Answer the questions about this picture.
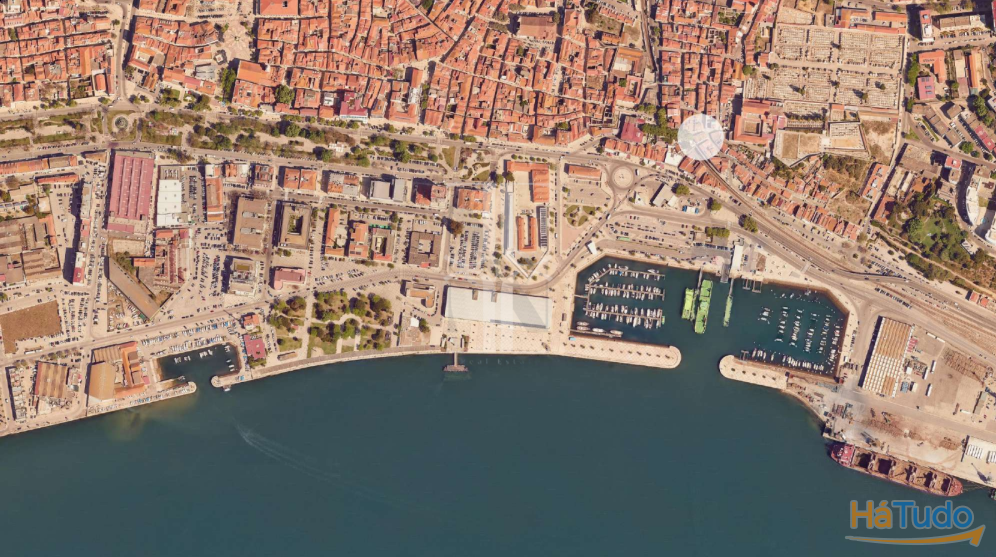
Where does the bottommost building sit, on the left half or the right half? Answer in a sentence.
The bottommost building sits on the right side.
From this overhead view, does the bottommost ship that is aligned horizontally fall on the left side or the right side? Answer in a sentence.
The bottommost ship that is aligned horizontally sits on the right side.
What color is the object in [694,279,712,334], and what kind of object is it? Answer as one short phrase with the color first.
green ship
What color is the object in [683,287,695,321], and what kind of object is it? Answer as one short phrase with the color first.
green ship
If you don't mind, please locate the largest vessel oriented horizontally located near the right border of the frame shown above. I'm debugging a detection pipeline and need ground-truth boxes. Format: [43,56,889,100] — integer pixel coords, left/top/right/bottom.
[830,447,963,497]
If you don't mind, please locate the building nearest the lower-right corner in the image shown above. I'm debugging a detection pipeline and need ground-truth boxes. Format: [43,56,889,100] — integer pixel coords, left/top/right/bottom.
[962,436,996,471]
